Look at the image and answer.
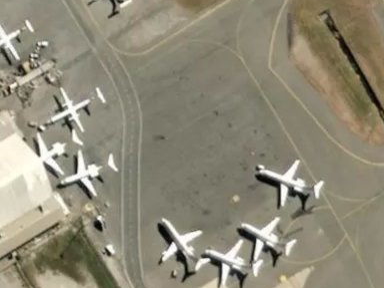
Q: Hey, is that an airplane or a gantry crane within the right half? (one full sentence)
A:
You can see an airplane within the right half.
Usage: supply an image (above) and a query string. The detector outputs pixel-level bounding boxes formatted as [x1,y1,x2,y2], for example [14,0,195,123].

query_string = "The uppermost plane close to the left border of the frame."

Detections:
[0,19,36,58]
